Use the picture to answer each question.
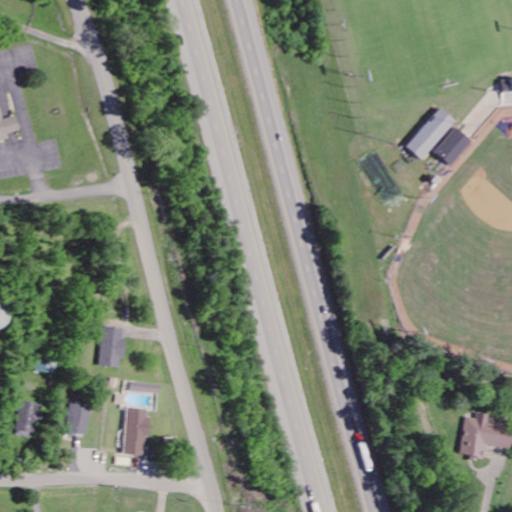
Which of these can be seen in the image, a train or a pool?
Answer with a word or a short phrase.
pool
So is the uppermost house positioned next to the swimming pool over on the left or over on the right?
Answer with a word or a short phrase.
left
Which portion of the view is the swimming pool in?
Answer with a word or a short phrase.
bottom left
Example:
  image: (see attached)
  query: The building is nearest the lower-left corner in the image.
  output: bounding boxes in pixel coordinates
[12,400,42,440]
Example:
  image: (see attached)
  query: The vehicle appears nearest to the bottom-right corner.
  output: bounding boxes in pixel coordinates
[356,433,372,473]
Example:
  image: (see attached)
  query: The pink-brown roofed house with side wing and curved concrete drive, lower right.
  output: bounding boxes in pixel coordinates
[460,410,512,460]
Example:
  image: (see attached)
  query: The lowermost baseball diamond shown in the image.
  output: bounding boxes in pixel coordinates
[389,107,512,374]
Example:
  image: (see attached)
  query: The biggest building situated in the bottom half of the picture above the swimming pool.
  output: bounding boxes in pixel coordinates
[98,326,124,368]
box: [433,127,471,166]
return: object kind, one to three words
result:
building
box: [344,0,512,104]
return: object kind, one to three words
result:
sports field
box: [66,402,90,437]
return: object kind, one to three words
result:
house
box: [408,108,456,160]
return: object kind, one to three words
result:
barn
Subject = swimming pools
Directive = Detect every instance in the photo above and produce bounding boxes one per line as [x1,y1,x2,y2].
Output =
[115,381,159,411]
